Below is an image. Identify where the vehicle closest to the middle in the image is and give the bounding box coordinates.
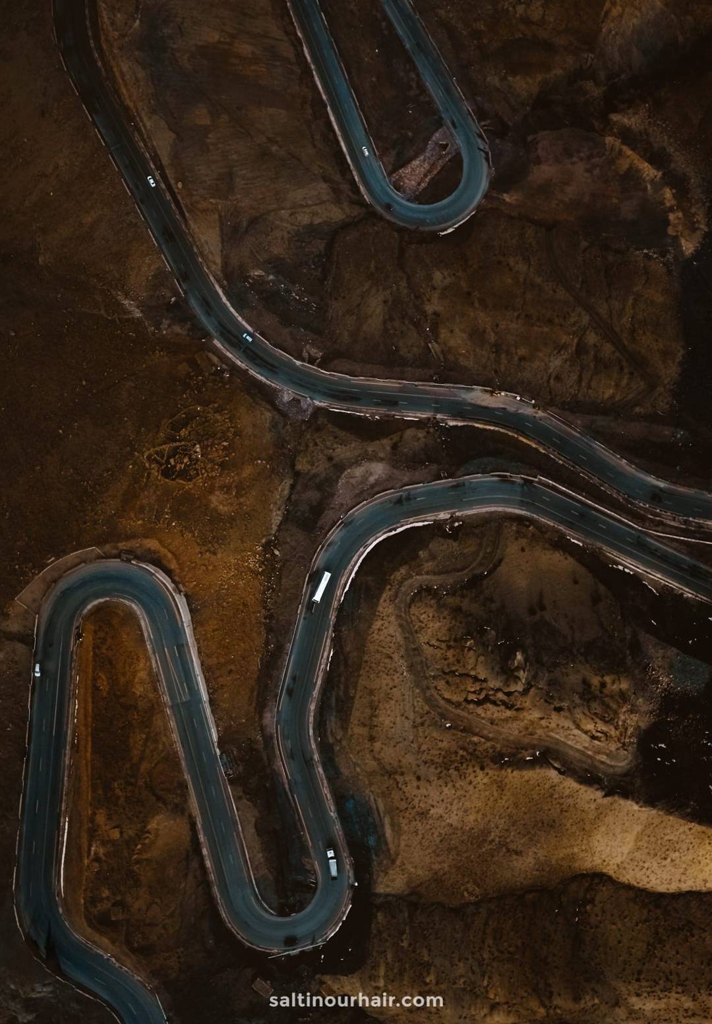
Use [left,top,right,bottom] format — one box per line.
[312,571,331,604]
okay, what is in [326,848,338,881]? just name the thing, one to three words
vehicle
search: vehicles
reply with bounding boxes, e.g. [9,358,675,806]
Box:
[34,664,40,677]
[242,333,253,343]
[147,175,155,187]
[362,145,369,157]
[326,848,338,881]
[312,571,331,604]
